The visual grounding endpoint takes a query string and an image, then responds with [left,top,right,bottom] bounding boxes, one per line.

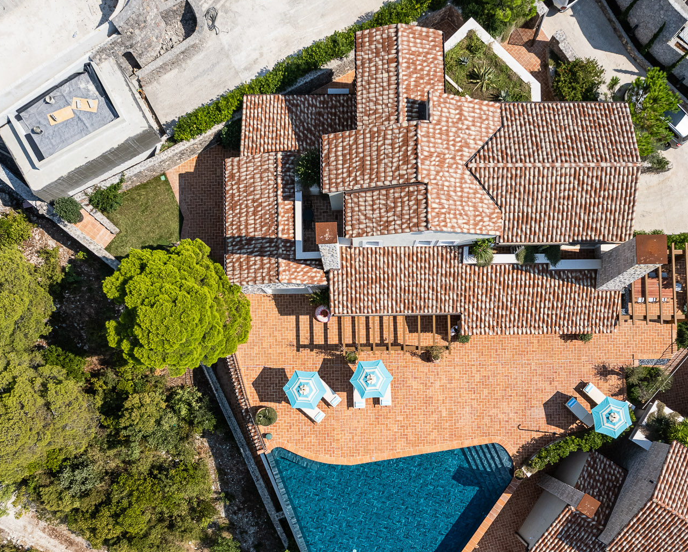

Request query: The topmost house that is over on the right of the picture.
[223,20,668,336]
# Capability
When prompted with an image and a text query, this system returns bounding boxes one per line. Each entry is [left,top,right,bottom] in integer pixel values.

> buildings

[0,58,171,201]
[223,20,668,336]
[522,441,688,552]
